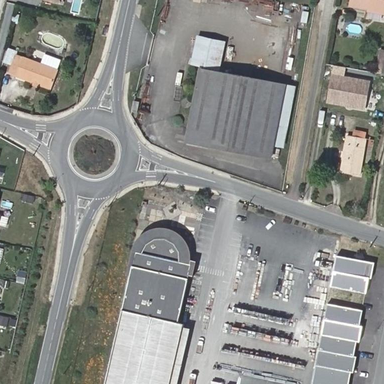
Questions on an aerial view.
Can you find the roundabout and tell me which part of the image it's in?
left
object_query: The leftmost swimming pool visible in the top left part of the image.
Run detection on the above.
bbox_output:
[41,32,66,50]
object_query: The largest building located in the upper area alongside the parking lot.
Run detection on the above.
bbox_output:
[184,68,286,158]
